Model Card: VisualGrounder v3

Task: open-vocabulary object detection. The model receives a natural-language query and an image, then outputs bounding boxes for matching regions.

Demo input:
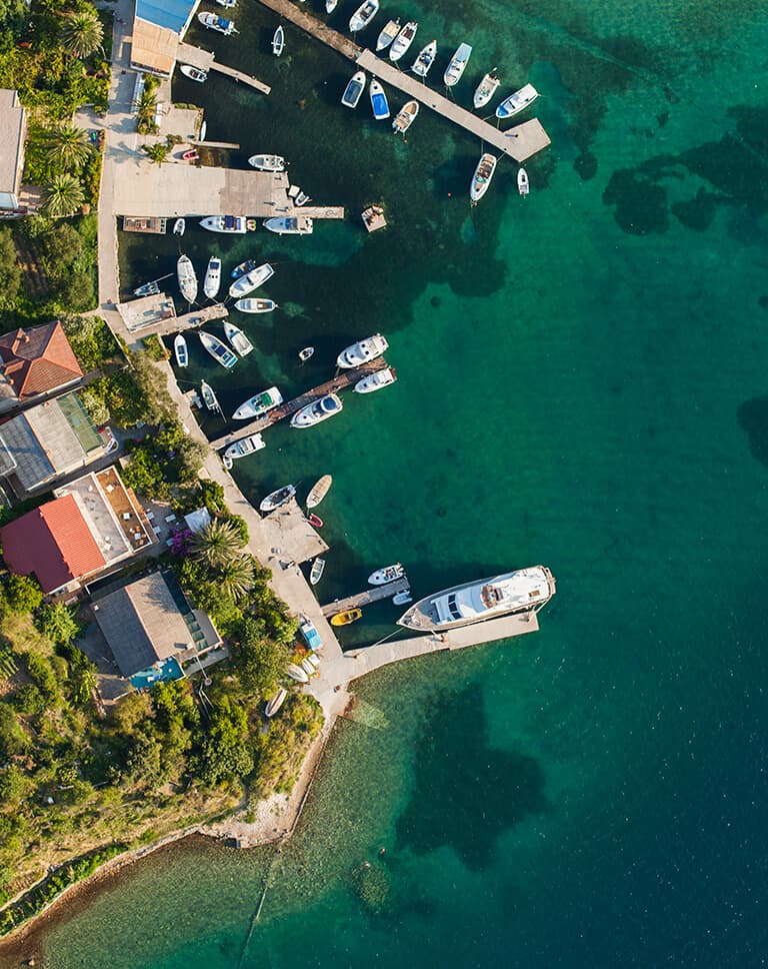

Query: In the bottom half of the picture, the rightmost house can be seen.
[90,569,225,689]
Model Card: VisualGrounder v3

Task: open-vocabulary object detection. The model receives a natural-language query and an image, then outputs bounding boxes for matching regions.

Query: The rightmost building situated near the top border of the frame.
[130,0,206,83]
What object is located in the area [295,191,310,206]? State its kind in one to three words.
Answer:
boat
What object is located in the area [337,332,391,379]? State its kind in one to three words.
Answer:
boat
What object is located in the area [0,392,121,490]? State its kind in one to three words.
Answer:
house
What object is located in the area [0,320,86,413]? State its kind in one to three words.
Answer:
house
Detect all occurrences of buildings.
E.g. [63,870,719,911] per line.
[130,0,206,83]
[0,320,86,413]
[2,465,161,598]
[90,569,225,689]
[0,392,121,490]
[0,88,29,210]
